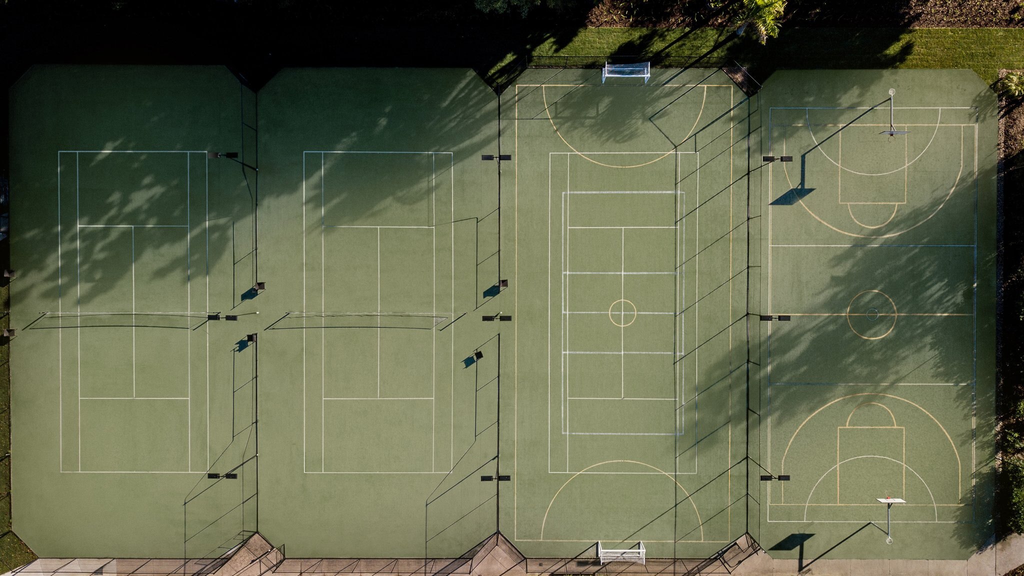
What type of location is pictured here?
sports ground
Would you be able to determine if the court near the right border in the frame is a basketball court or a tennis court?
basketball court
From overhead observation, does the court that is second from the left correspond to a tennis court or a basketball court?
tennis court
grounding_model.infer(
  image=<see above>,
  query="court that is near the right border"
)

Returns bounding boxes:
[749,69,998,560]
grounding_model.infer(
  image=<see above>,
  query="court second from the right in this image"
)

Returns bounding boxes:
[499,68,749,559]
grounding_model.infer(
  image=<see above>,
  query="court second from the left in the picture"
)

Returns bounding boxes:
[257,67,499,558]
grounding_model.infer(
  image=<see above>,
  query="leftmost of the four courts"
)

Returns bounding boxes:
[10,65,257,559]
